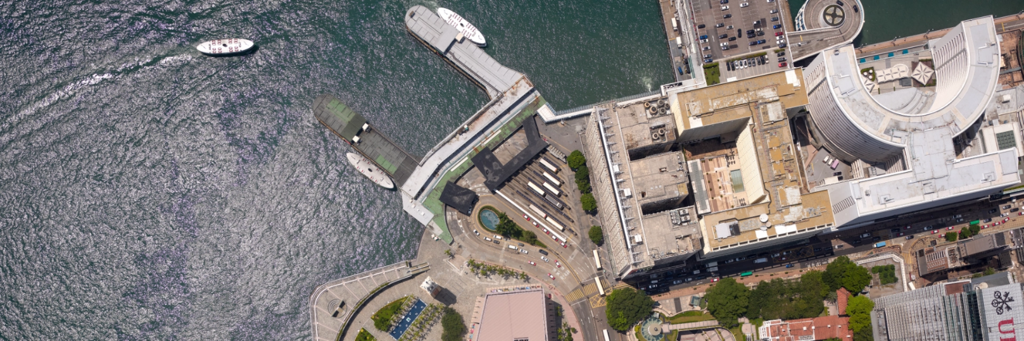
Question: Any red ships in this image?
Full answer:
No, no red ship can be seen from above.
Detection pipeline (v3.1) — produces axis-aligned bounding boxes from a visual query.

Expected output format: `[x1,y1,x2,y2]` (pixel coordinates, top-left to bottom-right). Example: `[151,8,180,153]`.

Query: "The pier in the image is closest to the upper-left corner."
[313,94,421,192]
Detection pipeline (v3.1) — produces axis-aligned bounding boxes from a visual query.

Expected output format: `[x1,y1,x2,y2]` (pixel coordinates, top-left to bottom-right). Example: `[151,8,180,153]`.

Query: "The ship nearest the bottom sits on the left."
[347,154,393,190]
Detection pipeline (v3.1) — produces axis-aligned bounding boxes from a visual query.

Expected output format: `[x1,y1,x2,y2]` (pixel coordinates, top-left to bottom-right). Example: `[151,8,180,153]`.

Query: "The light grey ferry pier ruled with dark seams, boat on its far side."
[402,5,528,103]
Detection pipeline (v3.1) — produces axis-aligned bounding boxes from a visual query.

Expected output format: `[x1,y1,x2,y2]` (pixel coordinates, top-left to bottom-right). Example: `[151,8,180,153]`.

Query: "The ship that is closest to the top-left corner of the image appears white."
[198,39,256,58]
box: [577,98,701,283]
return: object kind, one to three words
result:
building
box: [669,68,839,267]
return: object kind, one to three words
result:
building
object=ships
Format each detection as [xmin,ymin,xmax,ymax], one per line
[198,39,256,58]
[440,10,485,47]
[347,154,393,190]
